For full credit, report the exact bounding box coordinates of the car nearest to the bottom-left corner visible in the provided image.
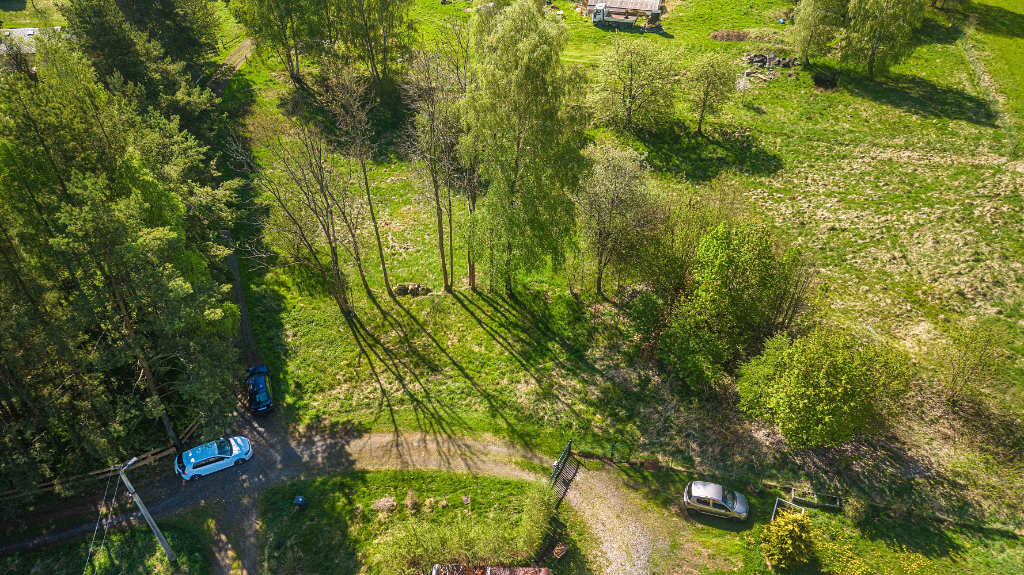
[174,432,254,480]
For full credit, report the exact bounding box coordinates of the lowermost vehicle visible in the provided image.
[680,481,748,524]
